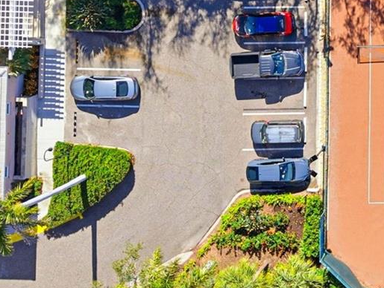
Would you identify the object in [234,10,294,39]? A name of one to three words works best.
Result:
car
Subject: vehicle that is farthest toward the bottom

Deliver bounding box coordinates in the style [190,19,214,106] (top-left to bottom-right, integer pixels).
[248,159,312,190]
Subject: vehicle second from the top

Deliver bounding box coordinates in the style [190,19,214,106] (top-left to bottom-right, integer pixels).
[230,49,306,81]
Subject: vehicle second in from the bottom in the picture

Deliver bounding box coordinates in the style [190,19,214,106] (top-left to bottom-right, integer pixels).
[253,120,305,149]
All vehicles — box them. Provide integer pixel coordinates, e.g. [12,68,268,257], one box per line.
[74,74,141,105]
[248,159,312,190]
[253,120,305,149]
[234,10,294,39]
[230,49,306,81]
